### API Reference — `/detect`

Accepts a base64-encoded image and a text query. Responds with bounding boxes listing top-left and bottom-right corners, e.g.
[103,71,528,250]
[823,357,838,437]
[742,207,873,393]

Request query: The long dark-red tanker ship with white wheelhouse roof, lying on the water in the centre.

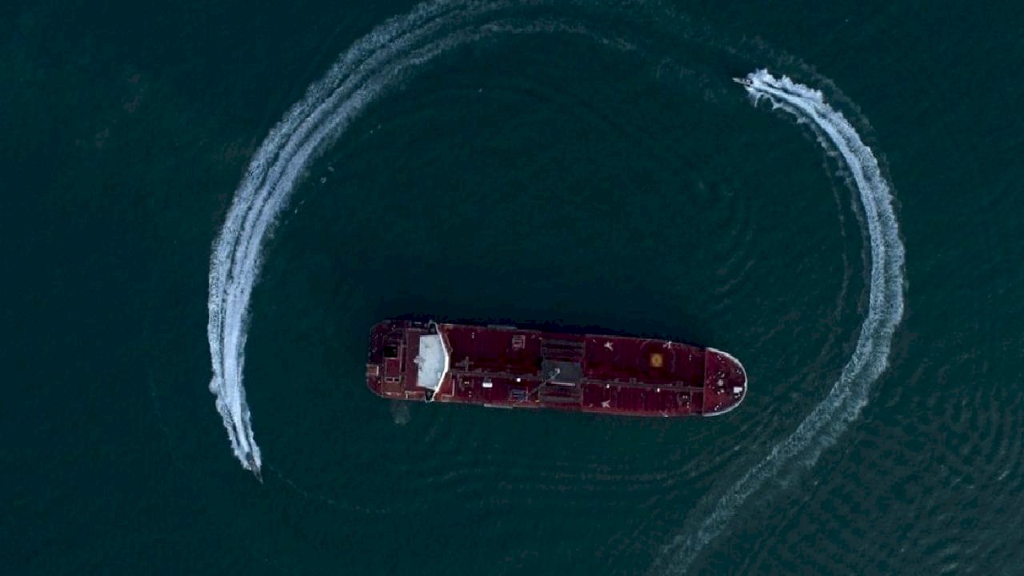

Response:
[366,320,747,417]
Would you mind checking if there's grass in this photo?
No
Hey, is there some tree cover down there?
No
